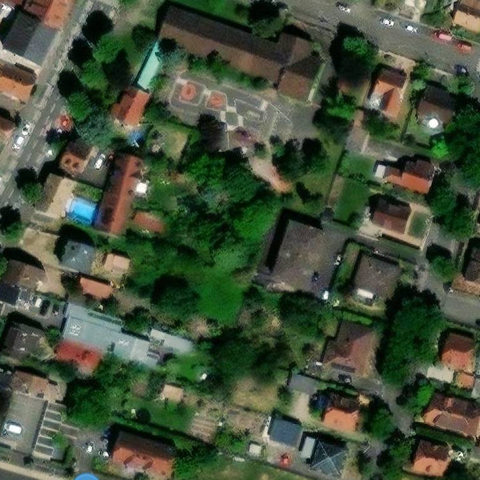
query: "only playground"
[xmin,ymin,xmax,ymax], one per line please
[168,77,323,145]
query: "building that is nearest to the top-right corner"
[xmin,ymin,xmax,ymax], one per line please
[446,0,480,29]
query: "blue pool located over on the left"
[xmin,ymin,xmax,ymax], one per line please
[69,197,103,225]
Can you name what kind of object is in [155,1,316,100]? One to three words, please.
building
